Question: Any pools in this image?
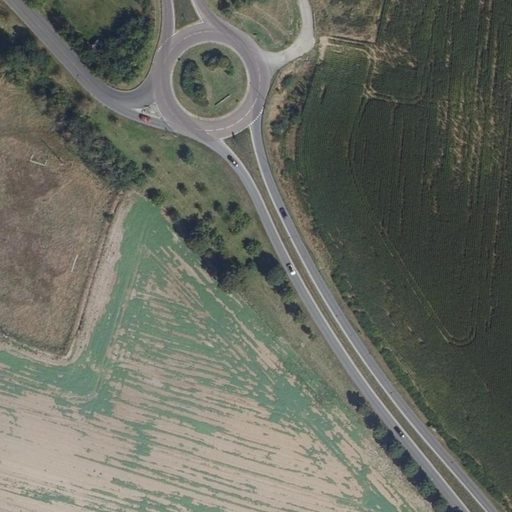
No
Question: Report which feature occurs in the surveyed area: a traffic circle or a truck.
traffic circle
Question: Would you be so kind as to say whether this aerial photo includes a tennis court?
No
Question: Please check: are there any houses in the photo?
No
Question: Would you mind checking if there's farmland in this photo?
Yes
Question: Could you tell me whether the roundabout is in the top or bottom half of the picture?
top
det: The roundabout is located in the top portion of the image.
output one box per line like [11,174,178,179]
[152,22,269,140]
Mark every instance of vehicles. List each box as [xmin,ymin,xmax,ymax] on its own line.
[287,262,296,274]
[394,426,405,438]
[140,114,152,122]
[279,206,288,218]
[228,154,238,166]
